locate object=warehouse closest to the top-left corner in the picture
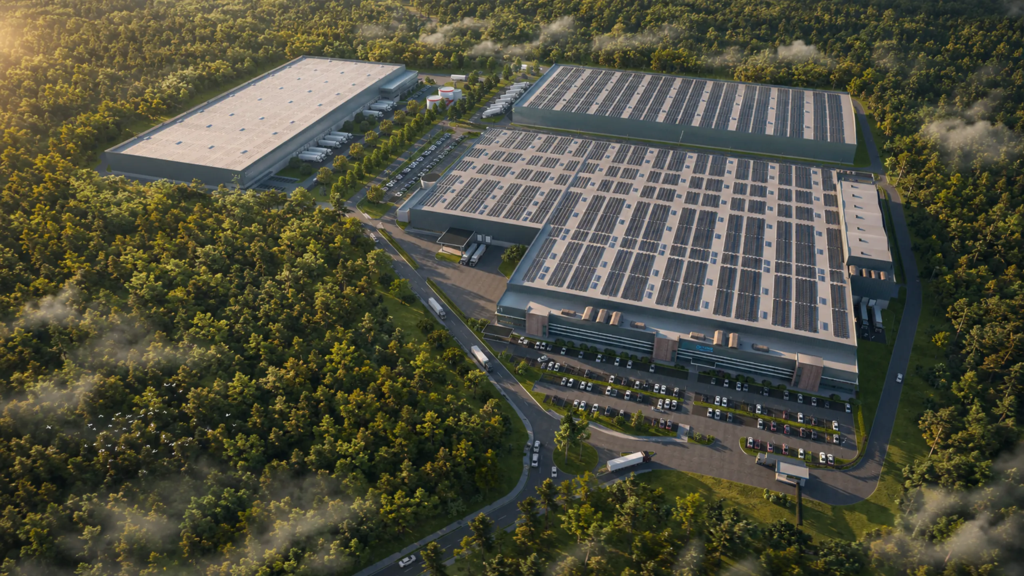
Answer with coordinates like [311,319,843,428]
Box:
[105,53,419,191]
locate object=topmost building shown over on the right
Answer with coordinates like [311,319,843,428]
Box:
[513,63,858,164]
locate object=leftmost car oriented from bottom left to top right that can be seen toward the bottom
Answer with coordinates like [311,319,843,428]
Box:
[399,554,416,567]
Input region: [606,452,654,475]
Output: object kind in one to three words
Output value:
truck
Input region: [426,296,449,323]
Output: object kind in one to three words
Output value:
truck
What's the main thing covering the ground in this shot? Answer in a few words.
trees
